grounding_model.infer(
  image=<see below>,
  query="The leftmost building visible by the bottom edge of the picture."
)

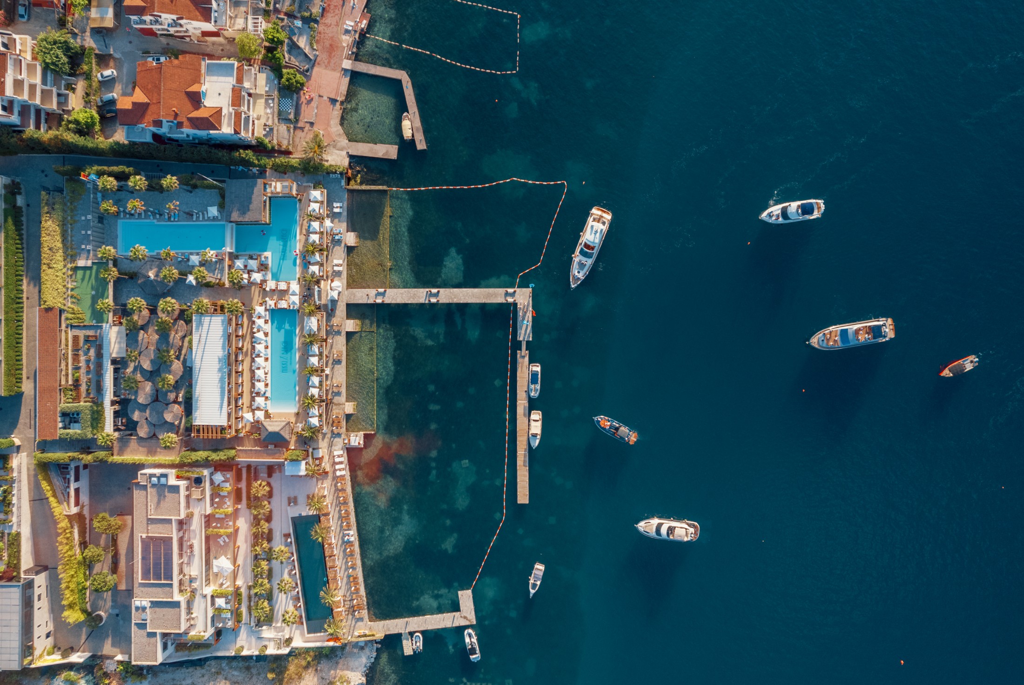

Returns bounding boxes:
[0,567,54,670]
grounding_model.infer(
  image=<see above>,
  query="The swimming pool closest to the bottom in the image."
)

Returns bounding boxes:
[289,507,331,637]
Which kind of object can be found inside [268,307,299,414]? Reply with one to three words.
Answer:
swimming pool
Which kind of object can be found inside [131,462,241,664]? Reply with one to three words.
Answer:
building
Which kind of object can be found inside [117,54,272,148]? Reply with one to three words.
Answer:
house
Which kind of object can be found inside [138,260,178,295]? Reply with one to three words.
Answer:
gazebo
